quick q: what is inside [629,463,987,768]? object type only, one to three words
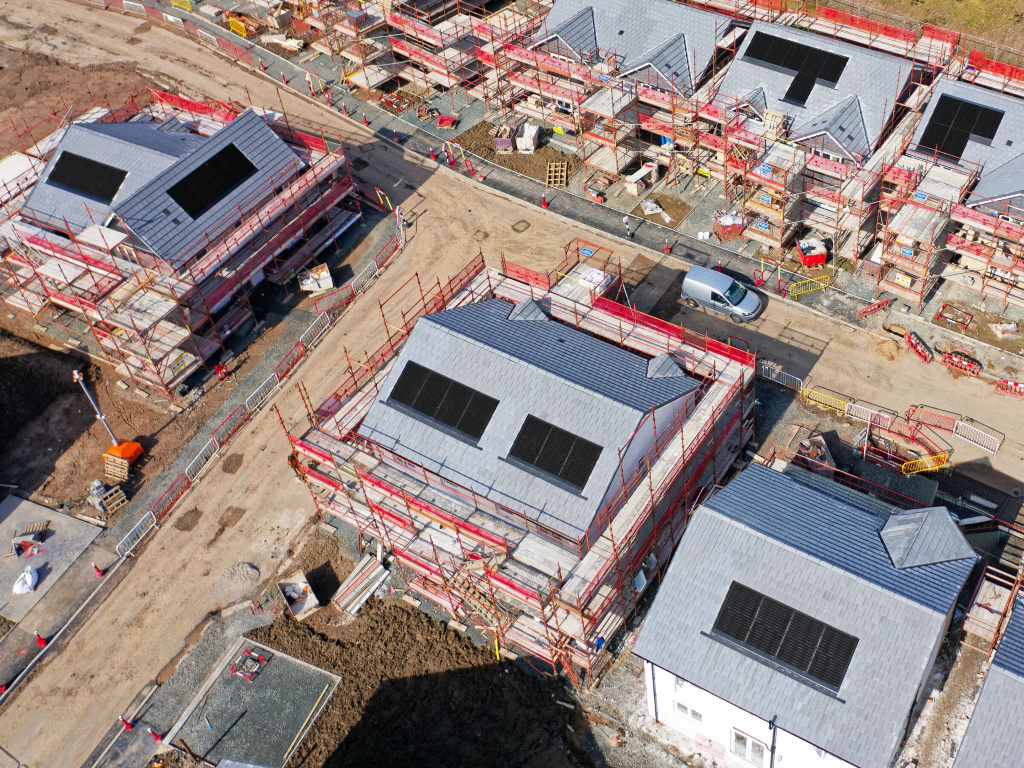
house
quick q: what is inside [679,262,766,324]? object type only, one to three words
van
